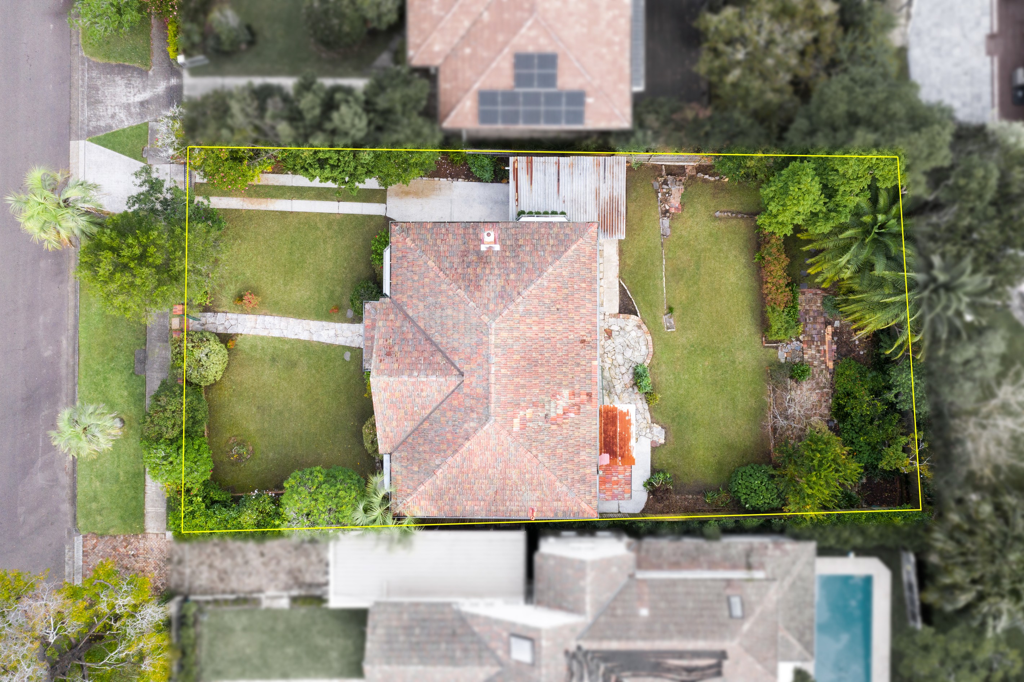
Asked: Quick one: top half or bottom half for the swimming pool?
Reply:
bottom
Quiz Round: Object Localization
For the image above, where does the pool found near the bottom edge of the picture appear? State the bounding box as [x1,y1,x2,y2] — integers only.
[818,576,872,682]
